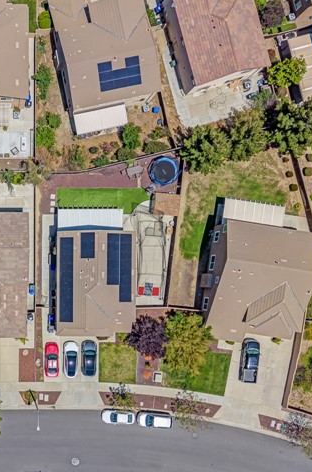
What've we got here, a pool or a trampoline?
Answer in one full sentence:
Visible in the photo is a trampoline.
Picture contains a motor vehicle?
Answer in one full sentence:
Yes, there's a motor vehicle down there.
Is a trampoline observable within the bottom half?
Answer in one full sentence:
No, no trampoline can be made out within the bottom half.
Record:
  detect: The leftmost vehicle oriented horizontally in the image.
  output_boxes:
[100,409,137,427]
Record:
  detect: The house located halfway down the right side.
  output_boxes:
[200,196,312,348]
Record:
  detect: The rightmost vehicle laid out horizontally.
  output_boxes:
[136,411,174,429]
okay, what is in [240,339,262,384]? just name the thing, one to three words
truck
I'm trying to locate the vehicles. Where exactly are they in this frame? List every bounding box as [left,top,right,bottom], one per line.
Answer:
[100,409,137,427]
[43,341,61,378]
[240,339,262,384]
[81,340,98,377]
[136,411,174,429]
[62,341,80,378]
